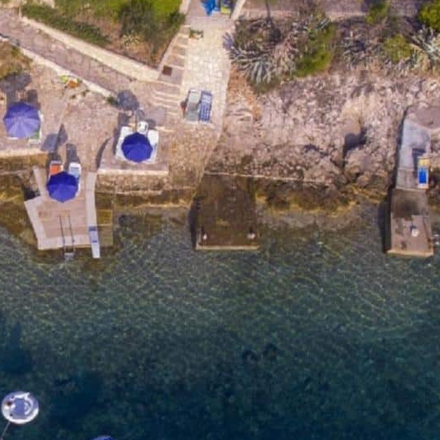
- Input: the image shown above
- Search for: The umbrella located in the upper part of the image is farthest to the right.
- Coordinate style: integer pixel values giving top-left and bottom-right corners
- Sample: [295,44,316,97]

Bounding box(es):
[197,0,221,25]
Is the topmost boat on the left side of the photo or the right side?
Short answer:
left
